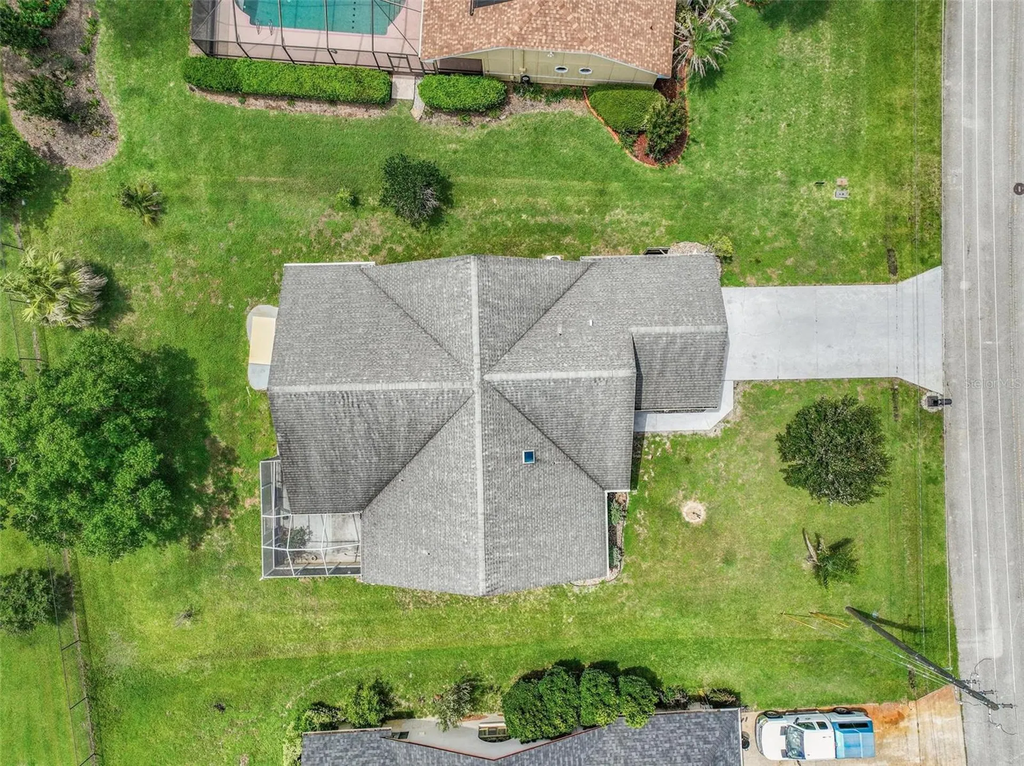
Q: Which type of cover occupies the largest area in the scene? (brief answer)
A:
grass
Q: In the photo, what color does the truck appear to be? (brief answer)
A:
white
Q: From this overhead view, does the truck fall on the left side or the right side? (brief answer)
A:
right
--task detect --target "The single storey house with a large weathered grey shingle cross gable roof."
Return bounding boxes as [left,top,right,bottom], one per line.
[269,252,729,595]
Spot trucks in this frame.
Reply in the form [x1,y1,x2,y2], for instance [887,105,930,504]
[753,710,875,766]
